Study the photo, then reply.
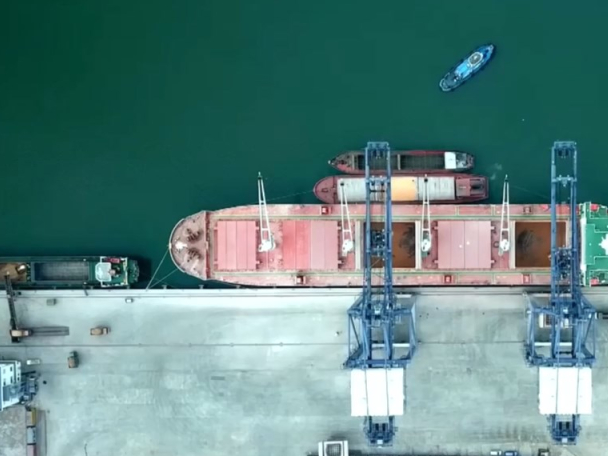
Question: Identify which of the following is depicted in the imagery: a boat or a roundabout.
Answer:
boat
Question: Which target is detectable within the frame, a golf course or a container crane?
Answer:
container crane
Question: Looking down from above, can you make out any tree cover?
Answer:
No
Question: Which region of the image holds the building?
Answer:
bottom left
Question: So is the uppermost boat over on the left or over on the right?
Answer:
right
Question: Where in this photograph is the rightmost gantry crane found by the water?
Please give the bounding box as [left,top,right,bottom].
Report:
[521,143,595,445]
